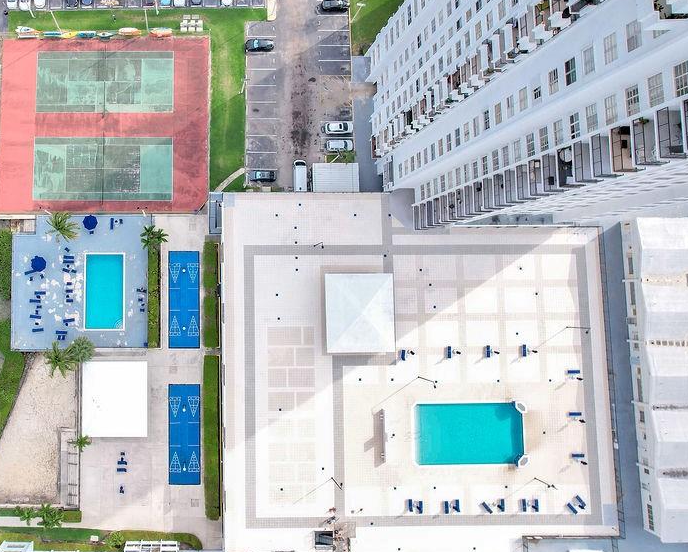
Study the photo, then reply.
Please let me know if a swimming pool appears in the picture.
Yes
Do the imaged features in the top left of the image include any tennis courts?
Yes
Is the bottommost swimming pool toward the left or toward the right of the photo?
right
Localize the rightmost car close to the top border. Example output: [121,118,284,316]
[321,0,349,12]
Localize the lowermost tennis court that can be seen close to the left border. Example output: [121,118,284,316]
[0,126,209,213]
